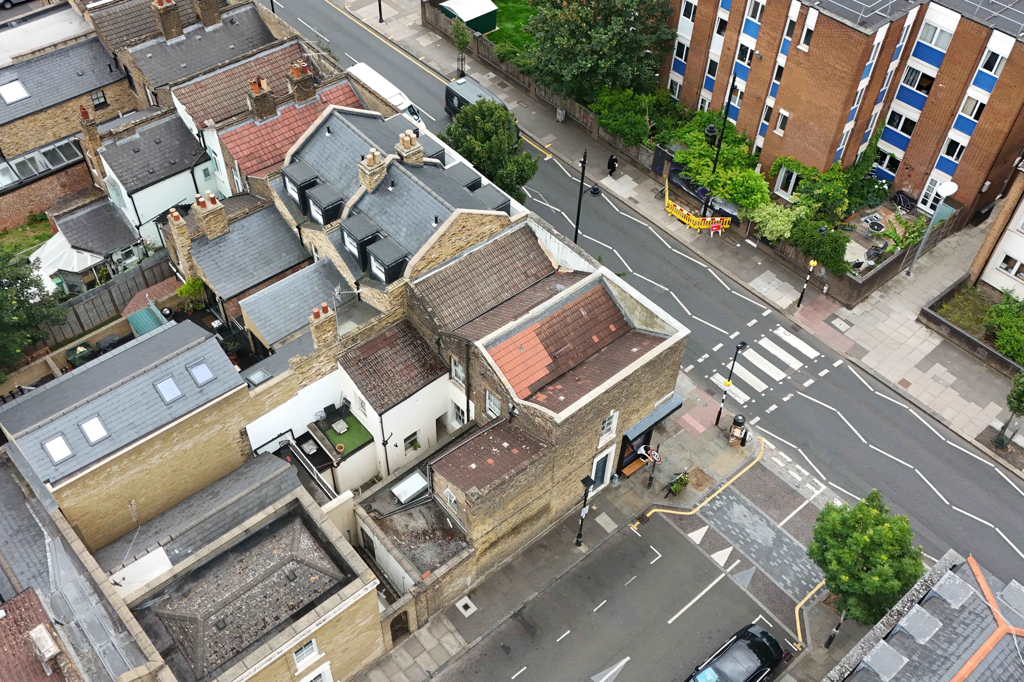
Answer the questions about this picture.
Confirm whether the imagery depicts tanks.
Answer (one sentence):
No, there's no tank here.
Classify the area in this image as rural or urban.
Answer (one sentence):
The area is urban.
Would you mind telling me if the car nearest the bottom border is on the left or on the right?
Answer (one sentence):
It is on the right.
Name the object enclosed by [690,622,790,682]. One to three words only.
car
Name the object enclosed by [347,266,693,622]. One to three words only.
house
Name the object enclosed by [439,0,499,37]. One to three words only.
shed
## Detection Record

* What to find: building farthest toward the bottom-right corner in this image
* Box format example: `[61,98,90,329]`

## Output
[822,549,1024,682]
